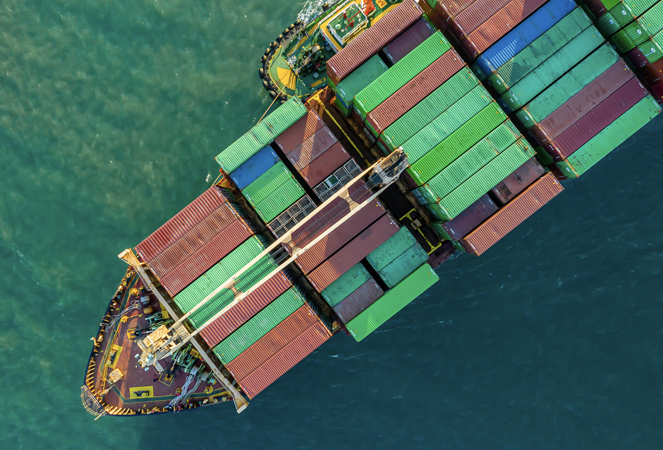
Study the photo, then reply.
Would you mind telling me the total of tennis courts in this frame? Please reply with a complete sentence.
The picture shows no tennis courts.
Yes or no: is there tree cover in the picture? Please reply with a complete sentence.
No, there is no tree cover in the image.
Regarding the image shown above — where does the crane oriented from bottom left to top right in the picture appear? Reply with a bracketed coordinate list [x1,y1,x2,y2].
[128,148,410,377]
